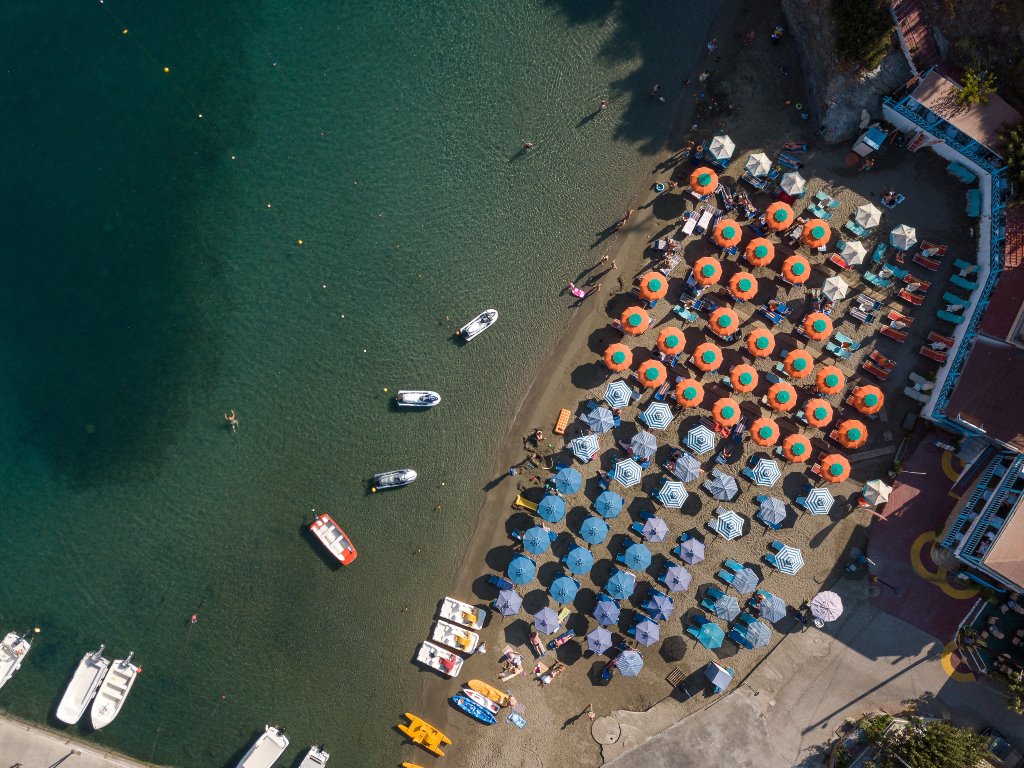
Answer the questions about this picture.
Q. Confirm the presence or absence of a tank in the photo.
No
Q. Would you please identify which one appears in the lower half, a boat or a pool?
boat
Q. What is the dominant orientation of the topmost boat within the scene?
on a diagonal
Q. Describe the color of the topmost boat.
white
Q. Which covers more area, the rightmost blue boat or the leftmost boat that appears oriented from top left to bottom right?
the leftmost boat that appears oriented from top left to bottom right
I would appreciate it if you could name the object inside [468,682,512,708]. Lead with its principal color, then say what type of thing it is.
orange boat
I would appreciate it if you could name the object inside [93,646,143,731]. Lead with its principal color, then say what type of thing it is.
white boat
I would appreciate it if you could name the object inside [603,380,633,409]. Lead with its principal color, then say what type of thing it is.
white umbrella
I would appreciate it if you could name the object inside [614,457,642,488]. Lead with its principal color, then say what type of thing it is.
white umbrella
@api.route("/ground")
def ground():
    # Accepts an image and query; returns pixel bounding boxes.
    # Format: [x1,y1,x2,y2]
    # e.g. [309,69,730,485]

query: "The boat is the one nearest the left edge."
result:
[0,628,36,689]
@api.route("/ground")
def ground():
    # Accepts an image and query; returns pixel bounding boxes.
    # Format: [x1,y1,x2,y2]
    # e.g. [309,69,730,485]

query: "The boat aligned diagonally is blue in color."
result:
[453,697,495,724]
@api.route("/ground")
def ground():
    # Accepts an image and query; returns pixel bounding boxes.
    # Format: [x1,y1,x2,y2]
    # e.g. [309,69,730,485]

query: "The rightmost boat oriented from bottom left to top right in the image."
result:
[458,310,497,343]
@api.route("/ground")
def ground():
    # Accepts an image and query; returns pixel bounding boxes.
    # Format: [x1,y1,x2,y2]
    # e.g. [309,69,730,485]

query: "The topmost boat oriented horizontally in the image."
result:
[397,390,440,407]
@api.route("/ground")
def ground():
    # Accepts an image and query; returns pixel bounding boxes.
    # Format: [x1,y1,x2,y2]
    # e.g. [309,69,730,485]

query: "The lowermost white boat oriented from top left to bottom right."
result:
[463,691,500,714]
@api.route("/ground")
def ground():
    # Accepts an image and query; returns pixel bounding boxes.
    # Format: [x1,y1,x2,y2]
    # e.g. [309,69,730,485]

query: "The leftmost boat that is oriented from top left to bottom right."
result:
[308,509,356,566]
